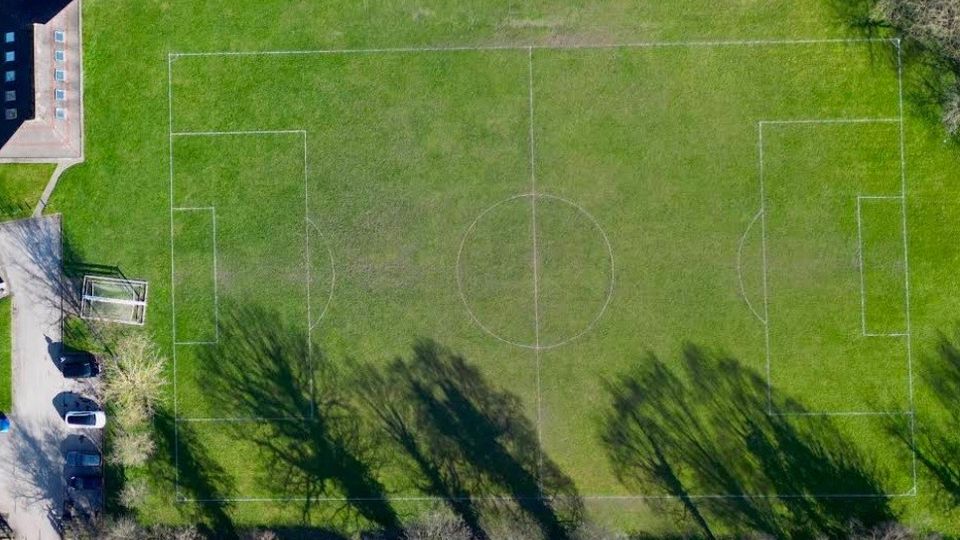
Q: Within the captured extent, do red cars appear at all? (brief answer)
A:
No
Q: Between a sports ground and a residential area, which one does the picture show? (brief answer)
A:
sports ground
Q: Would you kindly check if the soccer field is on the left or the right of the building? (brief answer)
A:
to the right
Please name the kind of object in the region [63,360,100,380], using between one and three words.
car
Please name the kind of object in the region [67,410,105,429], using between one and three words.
car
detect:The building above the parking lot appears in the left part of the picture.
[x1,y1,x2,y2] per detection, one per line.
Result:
[0,0,82,158]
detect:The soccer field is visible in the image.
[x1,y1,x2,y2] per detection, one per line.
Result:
[166,35,919,505]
